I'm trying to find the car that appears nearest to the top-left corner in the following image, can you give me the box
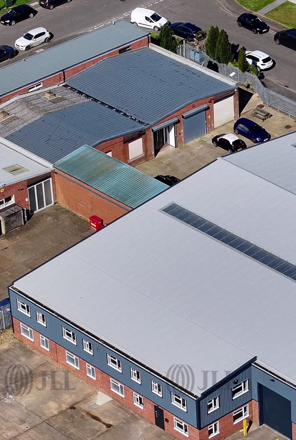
[1,3,34,24]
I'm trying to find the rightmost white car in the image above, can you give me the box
[245,49,274,71]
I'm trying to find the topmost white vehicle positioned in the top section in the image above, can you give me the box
[130,7,168,29]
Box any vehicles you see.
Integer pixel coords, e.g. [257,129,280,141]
[245,49,274,71]
[1,3,34,24]
[38,0,71,9]
[276,27,296,52]
[236,12,268,33]
[15,27,51,50]
[171,22,202,41]
[232,117,268,143]
[130,7,168,29]
[0,46,16,61]
[211,133,244,152]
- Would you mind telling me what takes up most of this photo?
buildings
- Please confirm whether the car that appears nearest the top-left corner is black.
Yes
